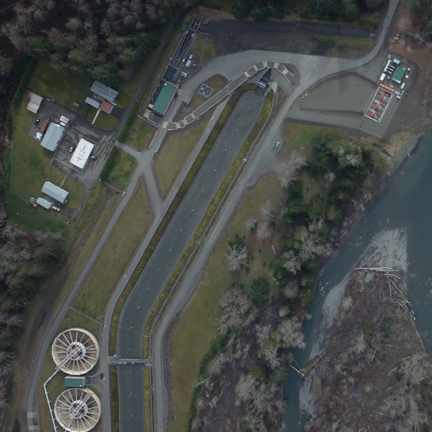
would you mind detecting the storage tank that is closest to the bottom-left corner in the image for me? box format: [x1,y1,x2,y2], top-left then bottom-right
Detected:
[54,387,100,432]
